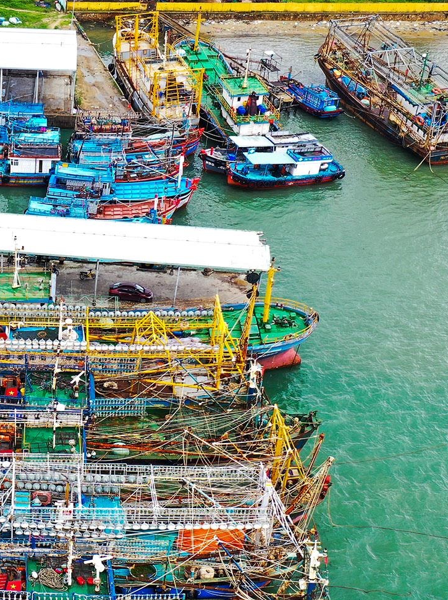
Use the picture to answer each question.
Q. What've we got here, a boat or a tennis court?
boat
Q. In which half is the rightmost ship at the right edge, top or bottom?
top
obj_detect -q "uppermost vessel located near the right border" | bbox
[306,26,448,170]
